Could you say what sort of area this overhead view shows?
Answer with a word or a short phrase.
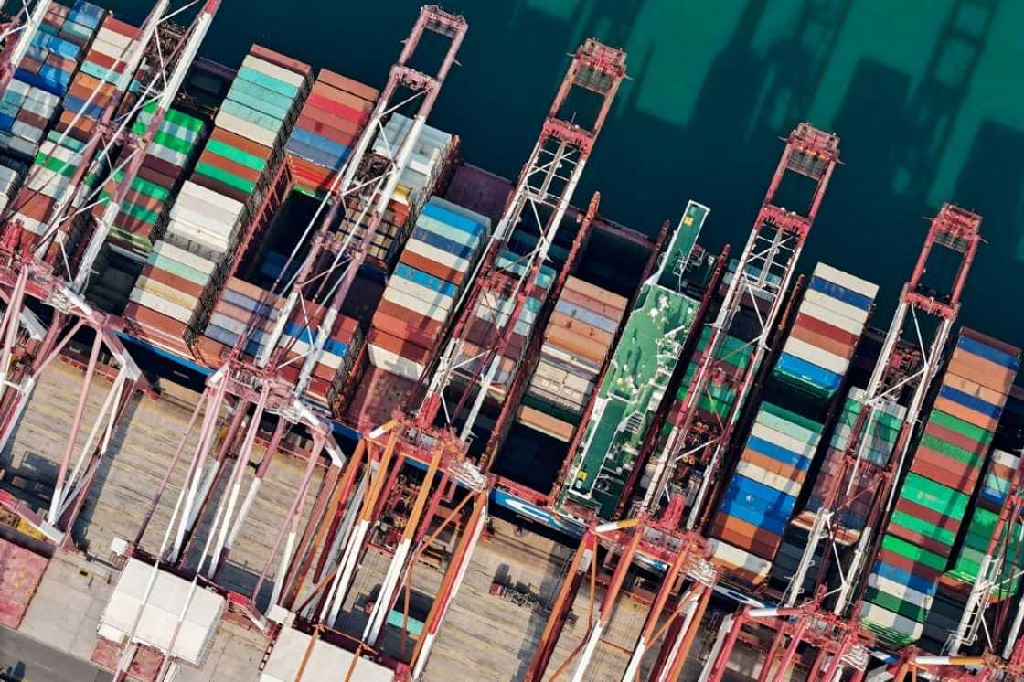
port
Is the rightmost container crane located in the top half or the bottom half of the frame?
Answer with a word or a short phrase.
bottom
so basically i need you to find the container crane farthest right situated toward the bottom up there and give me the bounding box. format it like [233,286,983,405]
[850,428,1024,682]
